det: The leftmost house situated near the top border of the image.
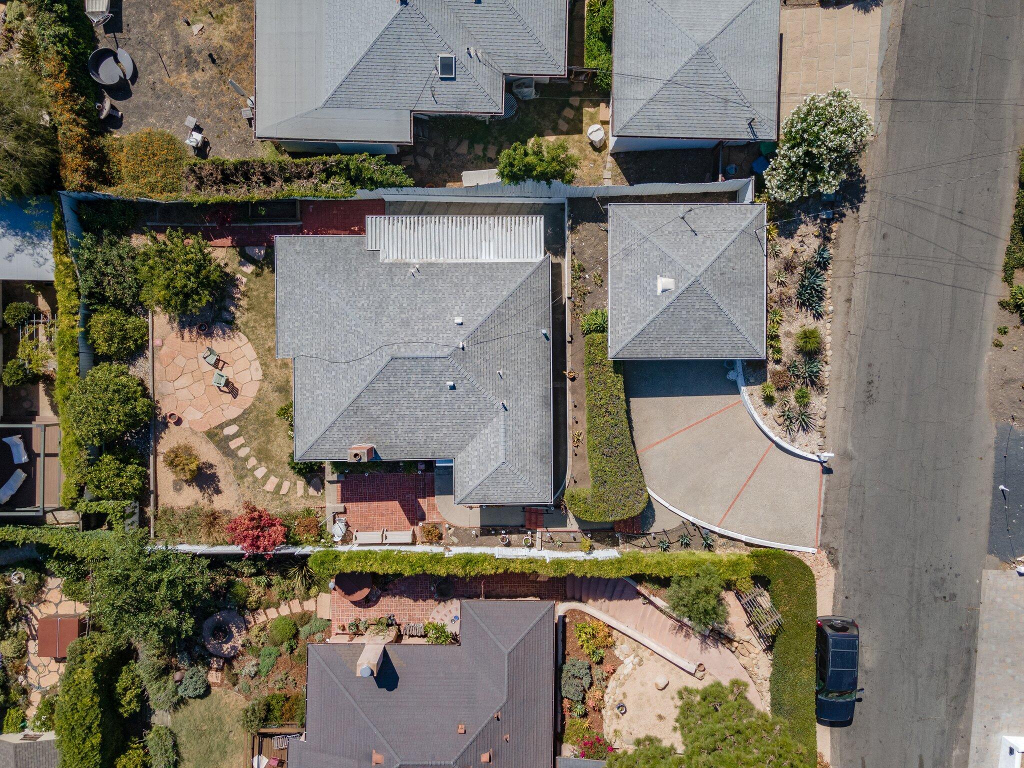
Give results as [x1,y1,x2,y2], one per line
[254,0,570,158]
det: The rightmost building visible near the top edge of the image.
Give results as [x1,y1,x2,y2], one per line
[609,0,781,152]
